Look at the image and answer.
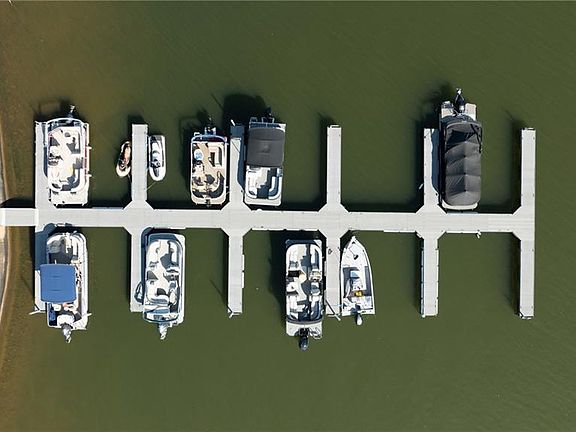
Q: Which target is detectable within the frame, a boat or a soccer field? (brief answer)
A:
boat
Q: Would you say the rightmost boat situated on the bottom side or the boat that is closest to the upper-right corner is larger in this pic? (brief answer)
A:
the boat that is closest to the upper-right corner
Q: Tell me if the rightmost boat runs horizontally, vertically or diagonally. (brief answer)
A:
vertically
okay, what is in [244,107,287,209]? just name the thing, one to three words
boat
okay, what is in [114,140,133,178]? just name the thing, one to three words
boat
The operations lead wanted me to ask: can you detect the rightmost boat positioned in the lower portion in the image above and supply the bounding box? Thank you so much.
[340,236,375,325]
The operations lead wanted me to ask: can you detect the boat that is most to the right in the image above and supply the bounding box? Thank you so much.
[440,89,484,211]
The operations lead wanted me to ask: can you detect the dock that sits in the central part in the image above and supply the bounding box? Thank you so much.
[33,122,536,318]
